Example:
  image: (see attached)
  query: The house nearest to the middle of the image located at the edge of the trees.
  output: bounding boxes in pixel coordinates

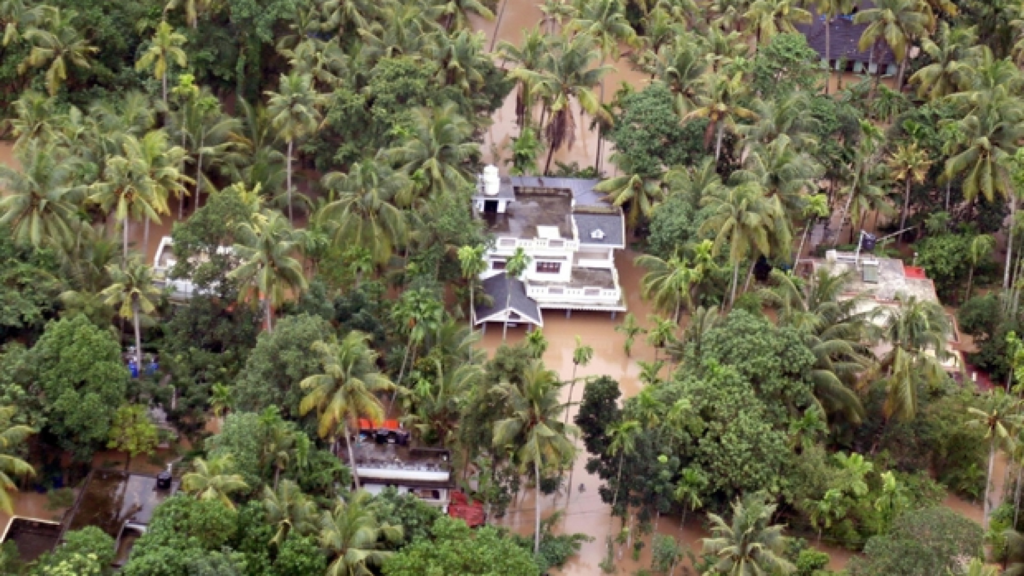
[471,176,628,334]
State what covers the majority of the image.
trees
